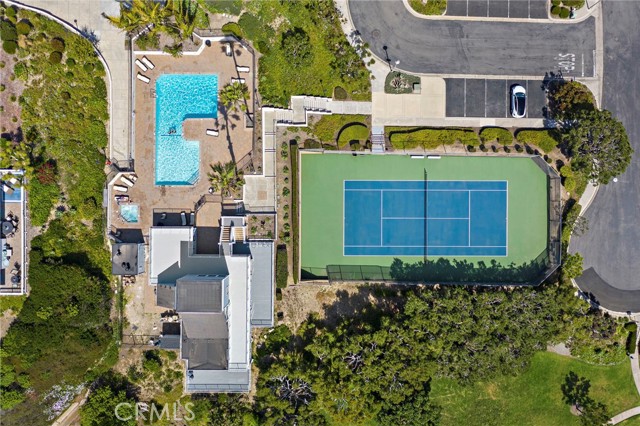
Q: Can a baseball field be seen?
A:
No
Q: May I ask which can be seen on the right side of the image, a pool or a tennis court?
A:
tennis court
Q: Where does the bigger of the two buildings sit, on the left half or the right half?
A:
left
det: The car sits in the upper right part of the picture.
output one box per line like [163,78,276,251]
[509,85,527,117]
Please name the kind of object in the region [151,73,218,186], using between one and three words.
swimming pool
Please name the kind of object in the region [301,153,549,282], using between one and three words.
tennis court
